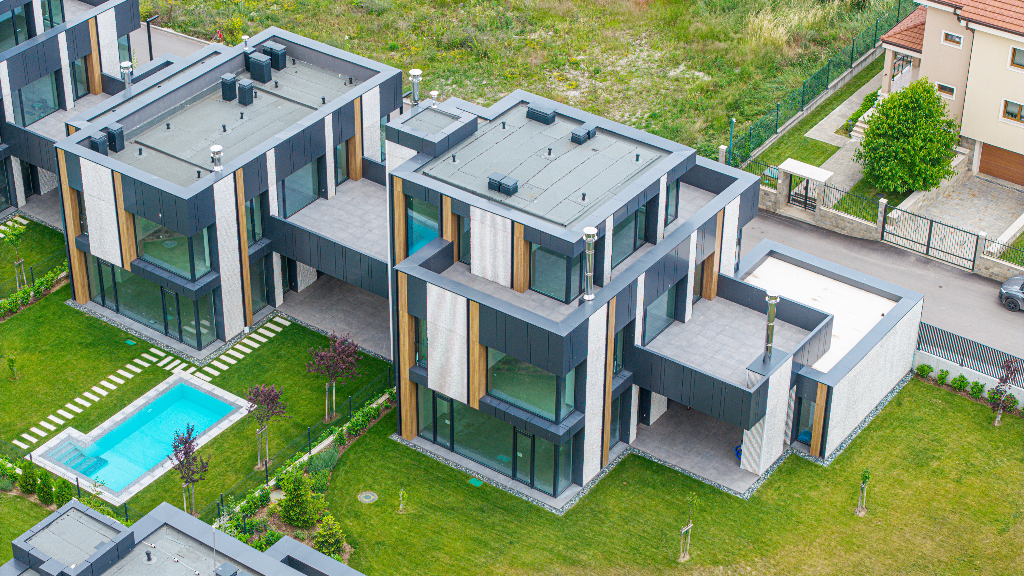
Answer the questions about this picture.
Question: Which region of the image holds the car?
right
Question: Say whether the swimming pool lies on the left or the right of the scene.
left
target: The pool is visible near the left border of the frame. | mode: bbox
[25,369,254,506]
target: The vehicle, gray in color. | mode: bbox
[993,272,1024,311]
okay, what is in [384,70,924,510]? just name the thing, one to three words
house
